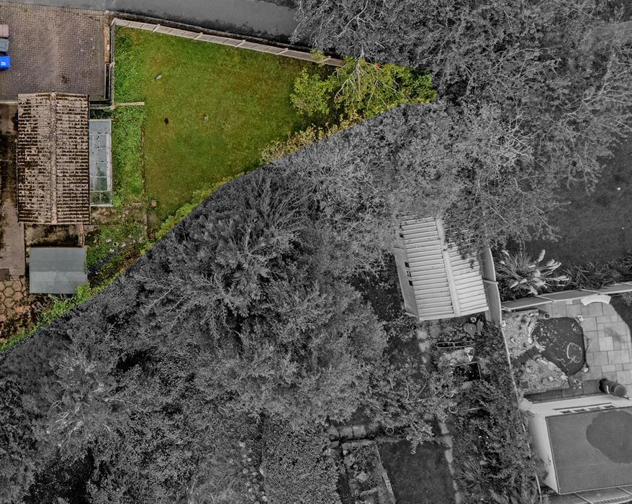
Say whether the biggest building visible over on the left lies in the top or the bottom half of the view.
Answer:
top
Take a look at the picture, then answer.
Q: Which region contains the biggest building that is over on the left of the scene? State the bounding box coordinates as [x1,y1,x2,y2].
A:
[15,92,92,225]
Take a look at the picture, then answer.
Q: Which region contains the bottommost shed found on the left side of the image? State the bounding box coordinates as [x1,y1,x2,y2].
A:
[28,246,88,294]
